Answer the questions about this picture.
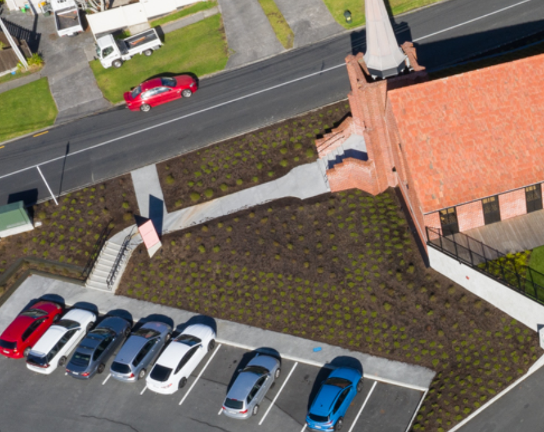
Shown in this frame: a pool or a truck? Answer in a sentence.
There is a truck in the scene.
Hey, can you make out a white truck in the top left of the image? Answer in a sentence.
Yes, a white truck shows up in the top left of the image.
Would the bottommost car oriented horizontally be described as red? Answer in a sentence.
Yes, red is the color of the bottommost car oriented horizontally.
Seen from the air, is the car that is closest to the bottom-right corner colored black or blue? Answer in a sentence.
The color of the car that is closest to the bottom-right corner is blue.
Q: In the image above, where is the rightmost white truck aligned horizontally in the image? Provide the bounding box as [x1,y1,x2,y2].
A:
[85,28,162,68]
